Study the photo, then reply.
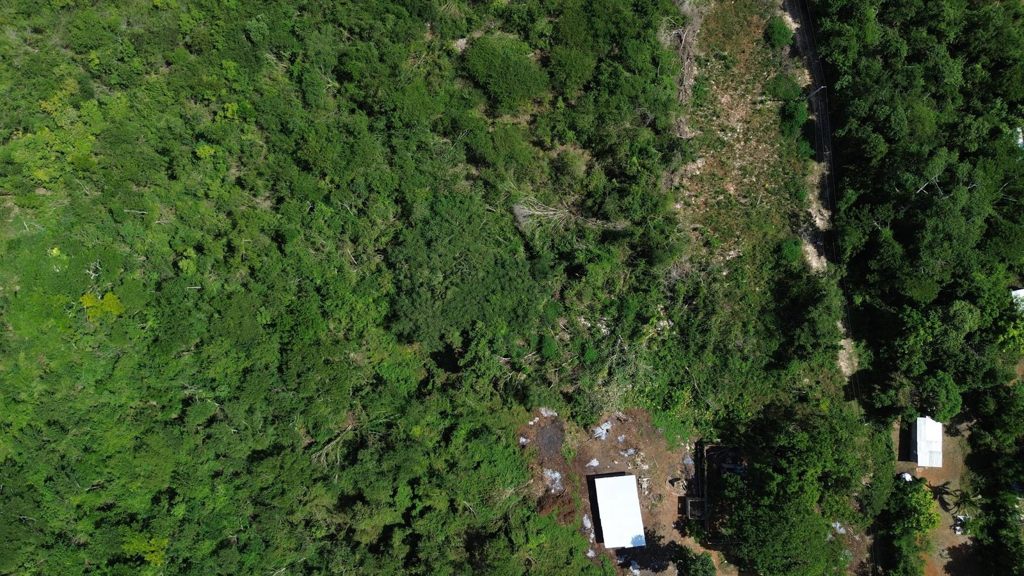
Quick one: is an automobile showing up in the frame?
No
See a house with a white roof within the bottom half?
Yes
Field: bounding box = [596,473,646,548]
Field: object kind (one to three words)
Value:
shed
